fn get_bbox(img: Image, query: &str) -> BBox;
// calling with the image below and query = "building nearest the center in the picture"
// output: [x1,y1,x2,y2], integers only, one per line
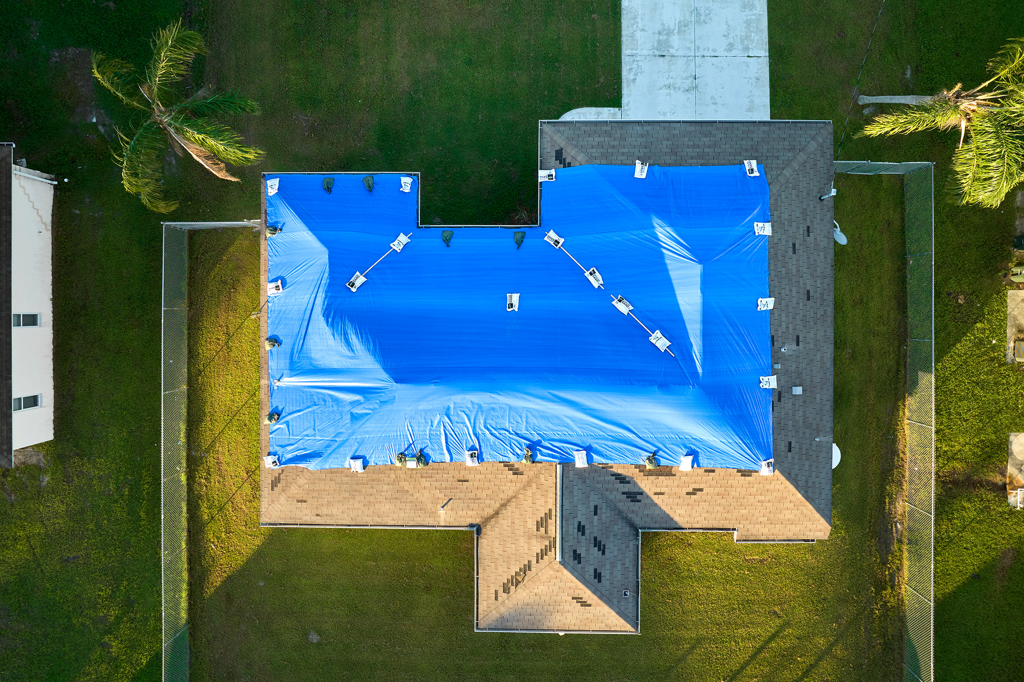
[258,119,832,637]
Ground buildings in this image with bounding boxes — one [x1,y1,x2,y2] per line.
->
[0,139,60,469]
[258,119,832,637]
